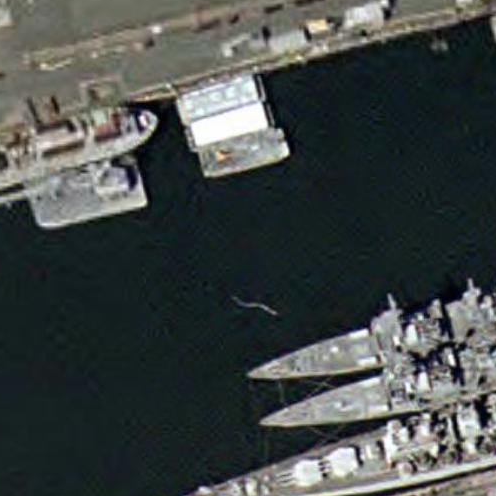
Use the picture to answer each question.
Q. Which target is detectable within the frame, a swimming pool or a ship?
ship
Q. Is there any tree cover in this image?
No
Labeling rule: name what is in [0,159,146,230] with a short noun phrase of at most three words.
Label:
ship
